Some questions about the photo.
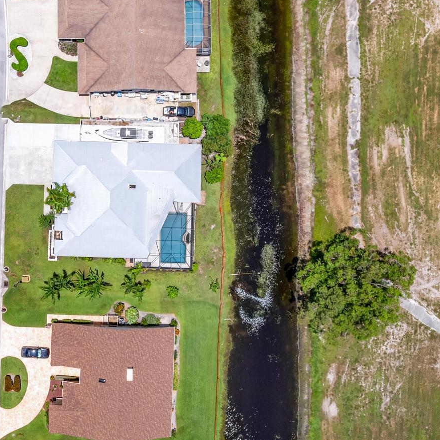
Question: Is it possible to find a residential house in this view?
Yes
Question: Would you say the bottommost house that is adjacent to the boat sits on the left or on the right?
left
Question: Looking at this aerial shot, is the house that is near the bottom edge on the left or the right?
left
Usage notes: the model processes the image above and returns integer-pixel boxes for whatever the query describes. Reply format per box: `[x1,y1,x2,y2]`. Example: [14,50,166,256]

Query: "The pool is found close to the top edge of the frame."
[186,0,205,48]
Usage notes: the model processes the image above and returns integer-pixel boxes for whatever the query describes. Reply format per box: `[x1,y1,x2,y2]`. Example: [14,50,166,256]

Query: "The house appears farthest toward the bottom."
[48,322,175,440]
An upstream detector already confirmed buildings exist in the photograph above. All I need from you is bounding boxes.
[48,322,175,440]
[57,0,197,94]
[52,140,202,258]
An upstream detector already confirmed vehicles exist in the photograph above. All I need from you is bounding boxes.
[21,346,49,360]
[163,104,195,119]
